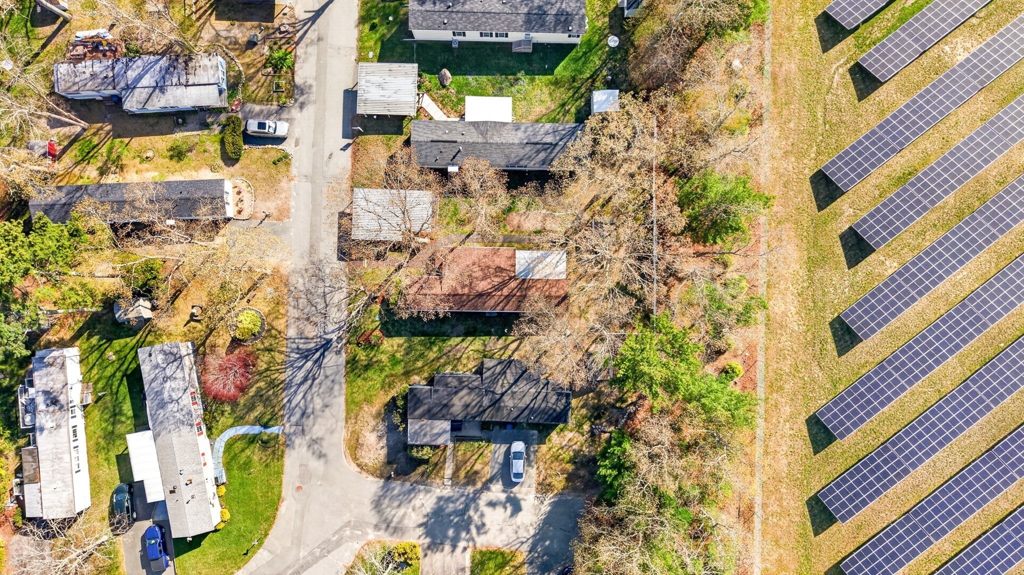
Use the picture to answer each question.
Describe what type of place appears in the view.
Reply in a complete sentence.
This image shows a residential area.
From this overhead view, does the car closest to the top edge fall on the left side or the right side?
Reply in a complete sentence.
You can find the car closest to the top edge on the left side of the picture.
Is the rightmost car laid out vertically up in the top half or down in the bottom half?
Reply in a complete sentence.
The rightmost car laid out vertically is in the bottom half of the image.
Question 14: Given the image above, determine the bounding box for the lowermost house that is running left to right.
[407,357,572,445]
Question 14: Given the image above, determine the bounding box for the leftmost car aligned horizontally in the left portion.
[244,117,291,139]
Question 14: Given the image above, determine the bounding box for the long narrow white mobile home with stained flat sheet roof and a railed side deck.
[3,348,90,520]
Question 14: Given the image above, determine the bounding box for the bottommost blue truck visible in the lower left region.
[142,524,170,573]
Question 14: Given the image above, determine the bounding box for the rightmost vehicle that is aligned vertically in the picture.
[508,439,528,483]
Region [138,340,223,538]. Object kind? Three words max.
house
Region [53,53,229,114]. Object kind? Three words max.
house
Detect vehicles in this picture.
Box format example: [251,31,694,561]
[142,524,170,573]
[111,482,136,523]
[508,439,528,483]
[561,565,578,575]
[244,117,291,139]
